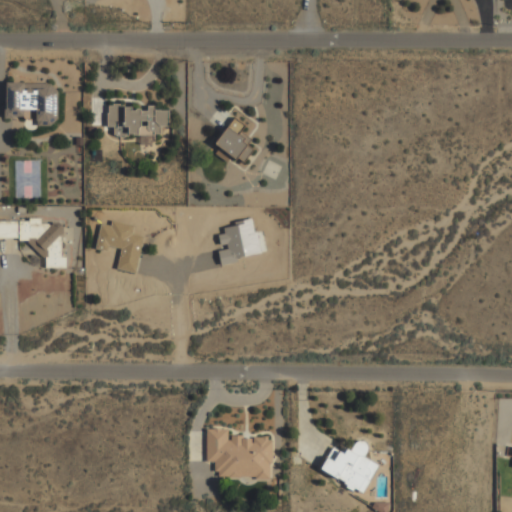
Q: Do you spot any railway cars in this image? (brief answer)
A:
No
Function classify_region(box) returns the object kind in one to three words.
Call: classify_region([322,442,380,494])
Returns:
house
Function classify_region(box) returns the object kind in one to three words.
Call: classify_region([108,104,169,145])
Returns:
house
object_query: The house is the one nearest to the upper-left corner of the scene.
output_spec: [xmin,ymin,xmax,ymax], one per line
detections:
[4,82,58,130]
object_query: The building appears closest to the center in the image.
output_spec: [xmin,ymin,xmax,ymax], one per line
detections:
[218,218,267,266]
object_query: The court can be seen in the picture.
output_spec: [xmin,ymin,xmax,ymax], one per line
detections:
[10,158,47,202]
